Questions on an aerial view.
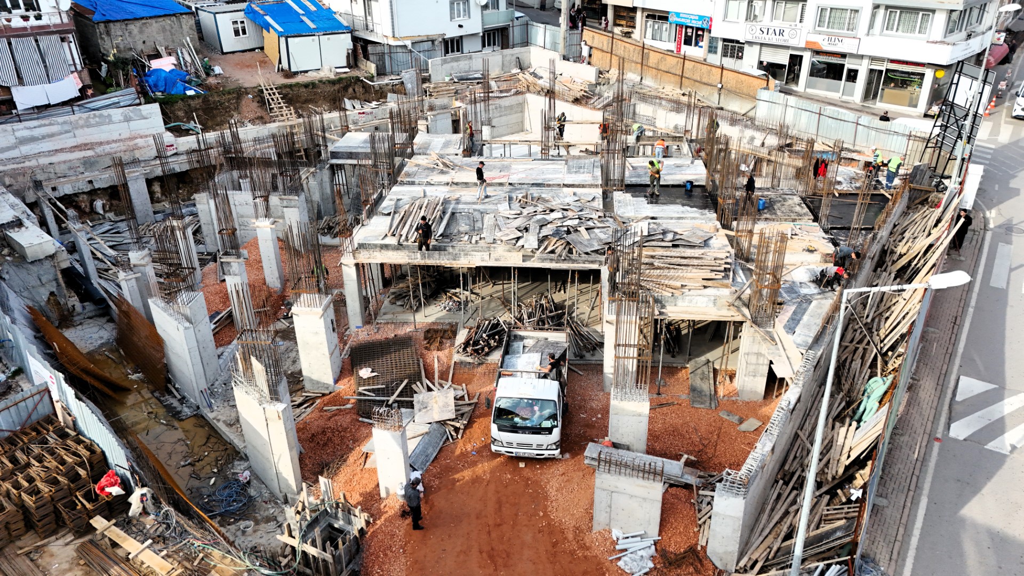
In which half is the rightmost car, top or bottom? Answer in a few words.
top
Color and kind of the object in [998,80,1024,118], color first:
white car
